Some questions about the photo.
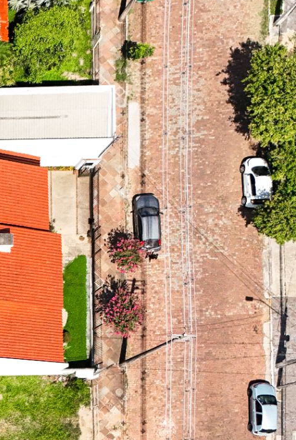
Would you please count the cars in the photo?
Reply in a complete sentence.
There are 3 cars in the image.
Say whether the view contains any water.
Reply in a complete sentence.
No, there's no water in this view.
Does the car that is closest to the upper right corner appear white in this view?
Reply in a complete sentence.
Yes, the car that is closest to the upper right corner appears white.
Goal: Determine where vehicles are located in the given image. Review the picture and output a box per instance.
[130,193,167,258]
[247,382,283,436]
[240,154,276,211]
